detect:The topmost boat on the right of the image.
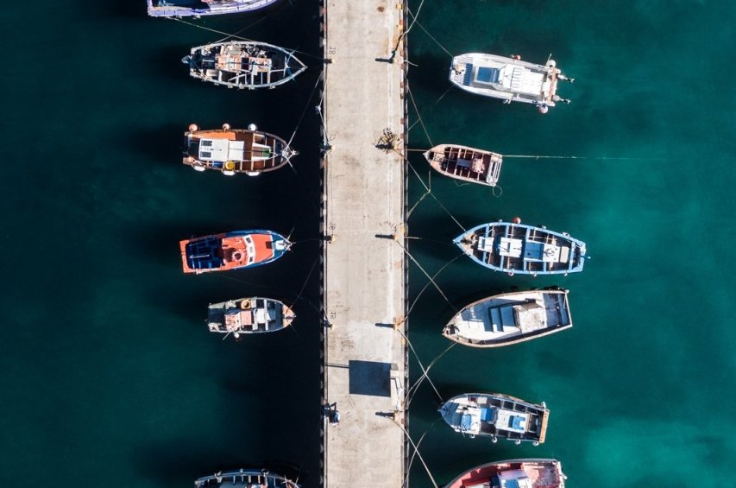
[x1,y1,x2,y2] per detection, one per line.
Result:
[449,53,575,112]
